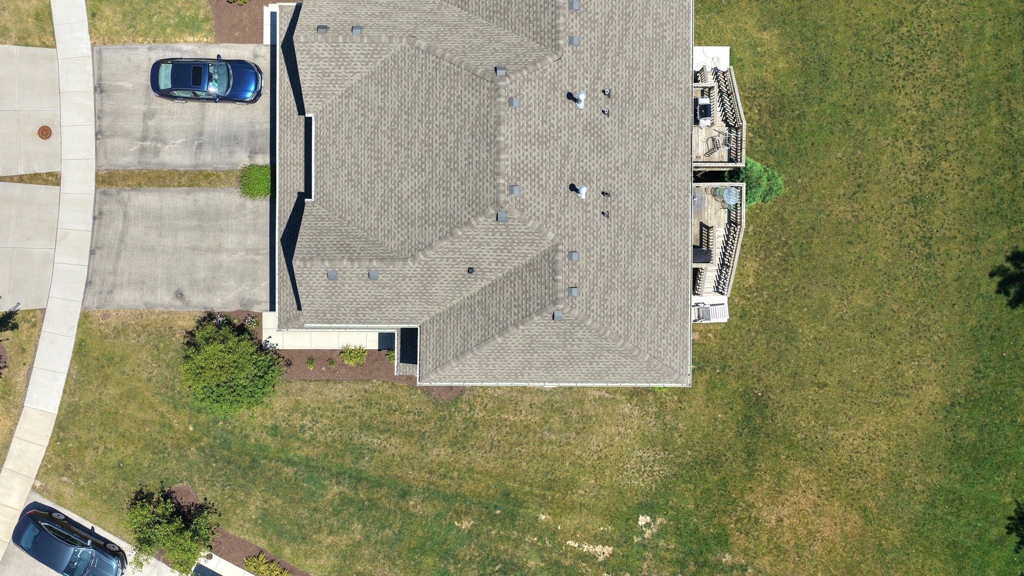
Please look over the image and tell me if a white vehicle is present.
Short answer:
No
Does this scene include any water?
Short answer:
No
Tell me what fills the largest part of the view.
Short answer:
grass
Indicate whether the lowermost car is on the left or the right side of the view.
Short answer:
left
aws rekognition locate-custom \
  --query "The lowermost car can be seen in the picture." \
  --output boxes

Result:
[12,509,128,576]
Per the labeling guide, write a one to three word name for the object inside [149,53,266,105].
car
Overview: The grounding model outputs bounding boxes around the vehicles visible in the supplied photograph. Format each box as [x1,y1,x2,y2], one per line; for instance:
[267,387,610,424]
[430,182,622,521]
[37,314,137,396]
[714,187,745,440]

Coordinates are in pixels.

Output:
[12,509,128,576]
[149,53,266,105]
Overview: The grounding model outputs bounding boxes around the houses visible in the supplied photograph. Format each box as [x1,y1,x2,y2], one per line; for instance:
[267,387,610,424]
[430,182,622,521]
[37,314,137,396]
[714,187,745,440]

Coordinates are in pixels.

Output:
[276,0,694,386]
